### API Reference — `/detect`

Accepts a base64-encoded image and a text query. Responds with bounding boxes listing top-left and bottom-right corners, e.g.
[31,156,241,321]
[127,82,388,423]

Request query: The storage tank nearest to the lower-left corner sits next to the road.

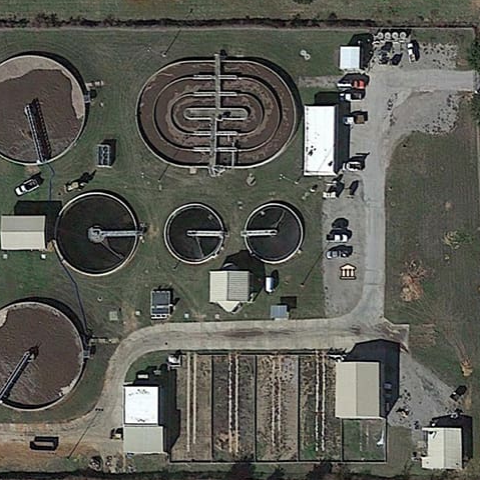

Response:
[0,301,92,410]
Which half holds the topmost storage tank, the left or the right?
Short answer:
left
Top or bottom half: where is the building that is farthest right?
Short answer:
bottom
